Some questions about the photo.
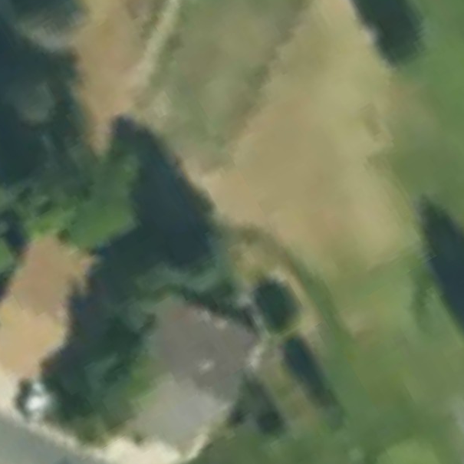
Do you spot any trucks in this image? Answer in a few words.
No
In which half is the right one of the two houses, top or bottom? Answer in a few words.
bottom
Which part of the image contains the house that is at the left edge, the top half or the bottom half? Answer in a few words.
bottom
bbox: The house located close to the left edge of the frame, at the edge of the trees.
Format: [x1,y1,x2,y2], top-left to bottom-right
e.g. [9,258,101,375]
[0,228,96,386]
